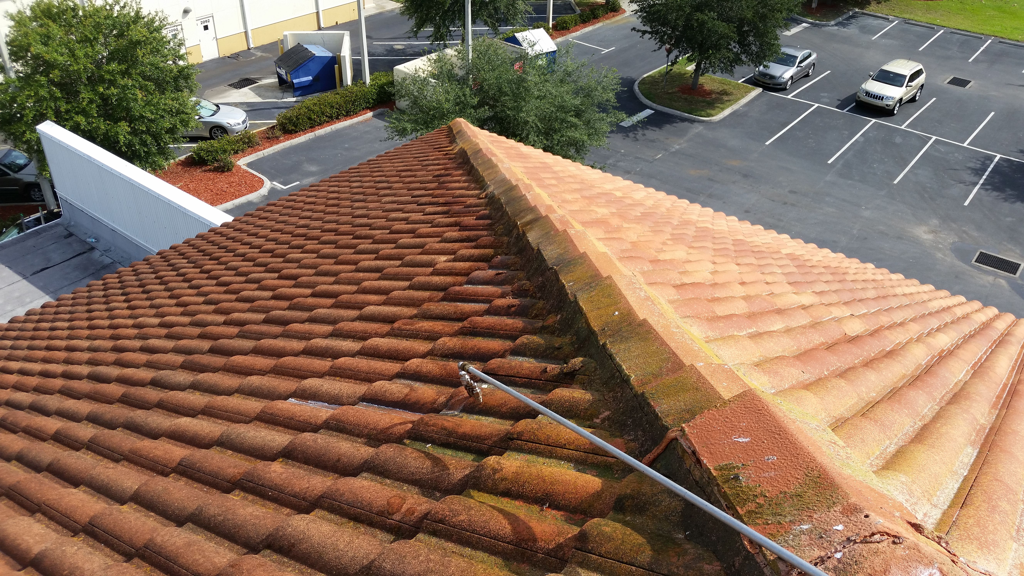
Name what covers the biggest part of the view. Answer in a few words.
buildings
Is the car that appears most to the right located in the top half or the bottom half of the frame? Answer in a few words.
top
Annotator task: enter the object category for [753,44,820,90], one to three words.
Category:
car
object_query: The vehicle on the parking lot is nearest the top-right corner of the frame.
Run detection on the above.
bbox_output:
[856,53,926,115]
